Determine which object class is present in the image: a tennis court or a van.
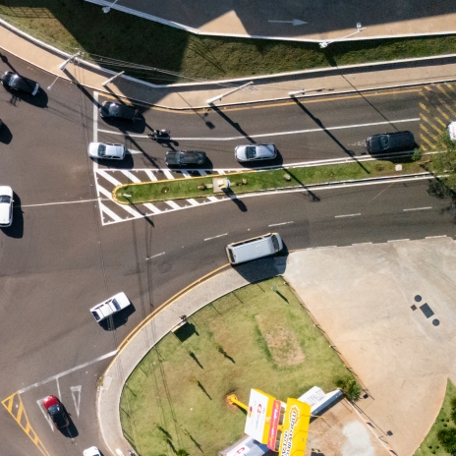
van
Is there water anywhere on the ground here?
No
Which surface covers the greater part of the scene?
paved ground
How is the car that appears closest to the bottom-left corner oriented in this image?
on a diagonal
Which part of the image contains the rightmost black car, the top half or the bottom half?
top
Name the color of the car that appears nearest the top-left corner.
black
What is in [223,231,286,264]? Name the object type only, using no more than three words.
van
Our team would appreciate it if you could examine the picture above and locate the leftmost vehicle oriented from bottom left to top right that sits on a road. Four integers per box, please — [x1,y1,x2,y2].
[89,290,131,324]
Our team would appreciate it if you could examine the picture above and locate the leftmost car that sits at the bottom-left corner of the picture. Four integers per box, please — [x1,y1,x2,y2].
[38,393,73,434]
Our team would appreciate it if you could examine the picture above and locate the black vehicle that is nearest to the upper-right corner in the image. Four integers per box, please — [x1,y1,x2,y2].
[364,130,419,155]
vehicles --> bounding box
[0,185,15,227]
[150,132,170,139]
[223,231,286,264]
[38,393,73,434]
[99,97,145,122]
[88,140,128,162]
[0,69,45,100]
[89,290,131,324]
[165,147,213,170]
[234,143,279,165]
[81,443,102,456]
[364,130,419,155]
